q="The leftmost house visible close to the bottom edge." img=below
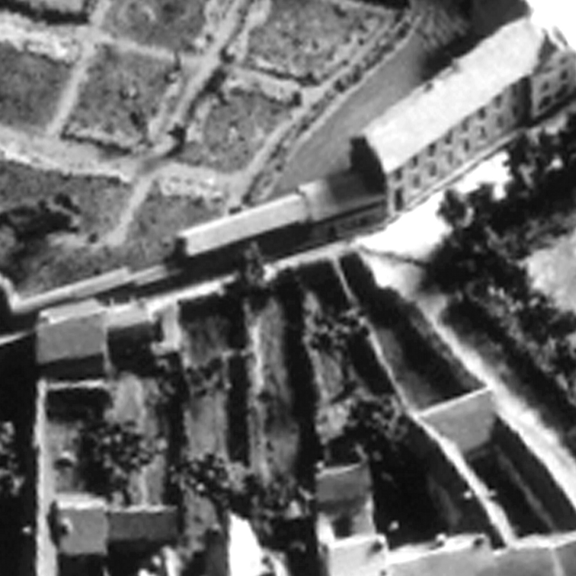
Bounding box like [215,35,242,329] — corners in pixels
[55,498,111,576]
